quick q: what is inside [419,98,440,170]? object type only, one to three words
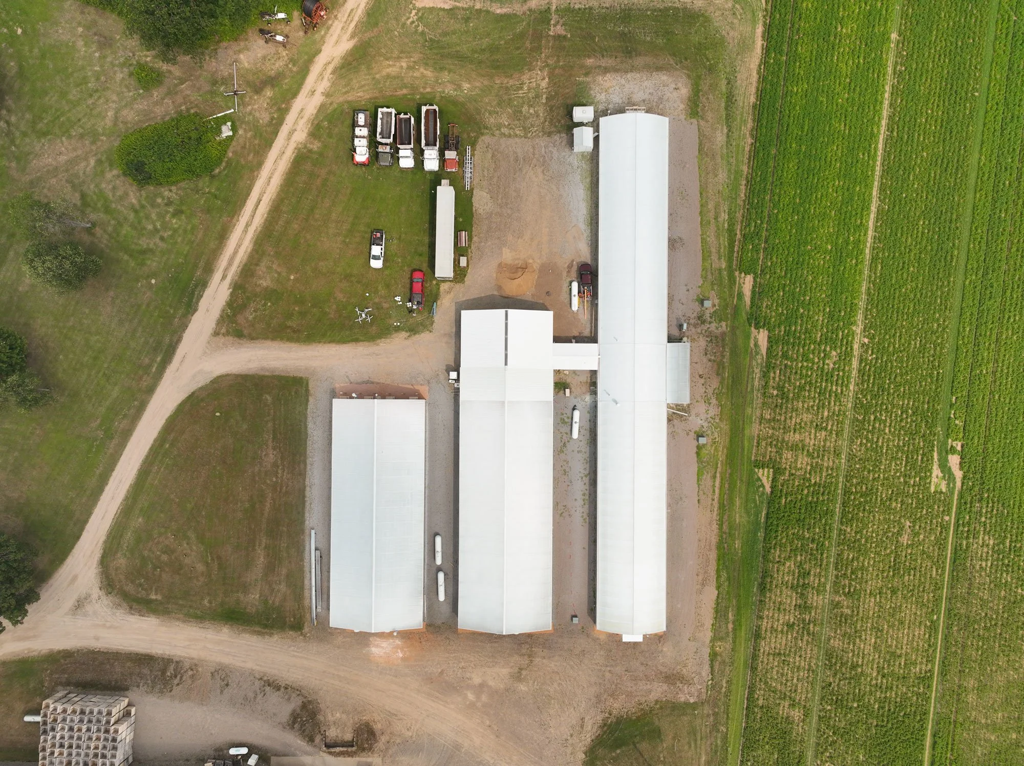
truck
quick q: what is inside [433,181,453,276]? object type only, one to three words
trailer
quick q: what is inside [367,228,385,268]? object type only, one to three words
vehicle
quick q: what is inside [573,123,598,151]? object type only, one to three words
shed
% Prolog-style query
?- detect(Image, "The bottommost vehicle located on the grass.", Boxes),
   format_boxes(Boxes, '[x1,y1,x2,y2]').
[408,270,424,309]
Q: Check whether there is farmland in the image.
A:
Yes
